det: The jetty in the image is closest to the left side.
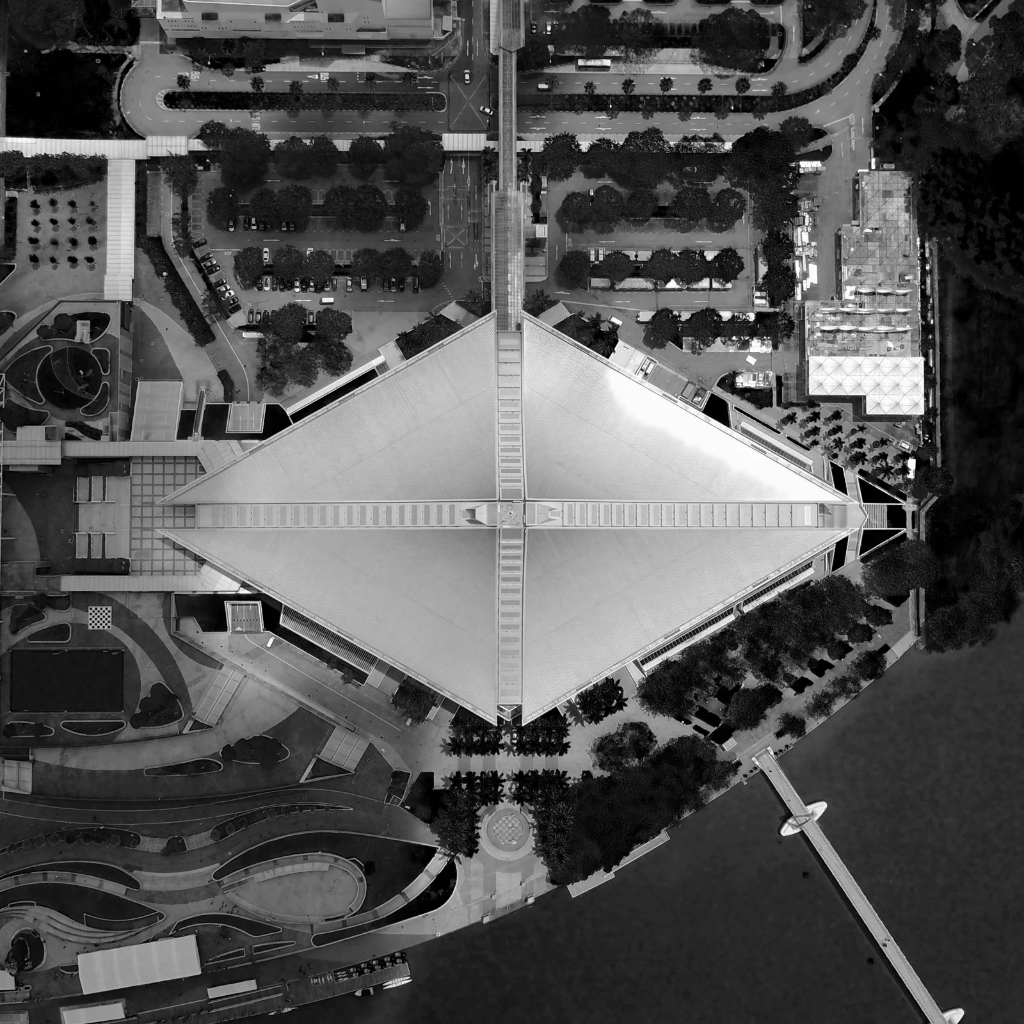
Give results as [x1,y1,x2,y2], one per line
[203,959,411,1024]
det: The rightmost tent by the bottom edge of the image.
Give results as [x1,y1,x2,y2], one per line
[207,977,257,999]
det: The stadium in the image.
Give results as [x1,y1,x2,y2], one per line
[156,311,869,726]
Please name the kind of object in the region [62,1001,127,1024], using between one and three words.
tent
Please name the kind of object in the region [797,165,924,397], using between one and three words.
building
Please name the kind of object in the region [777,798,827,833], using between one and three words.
pier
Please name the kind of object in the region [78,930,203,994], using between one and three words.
tent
